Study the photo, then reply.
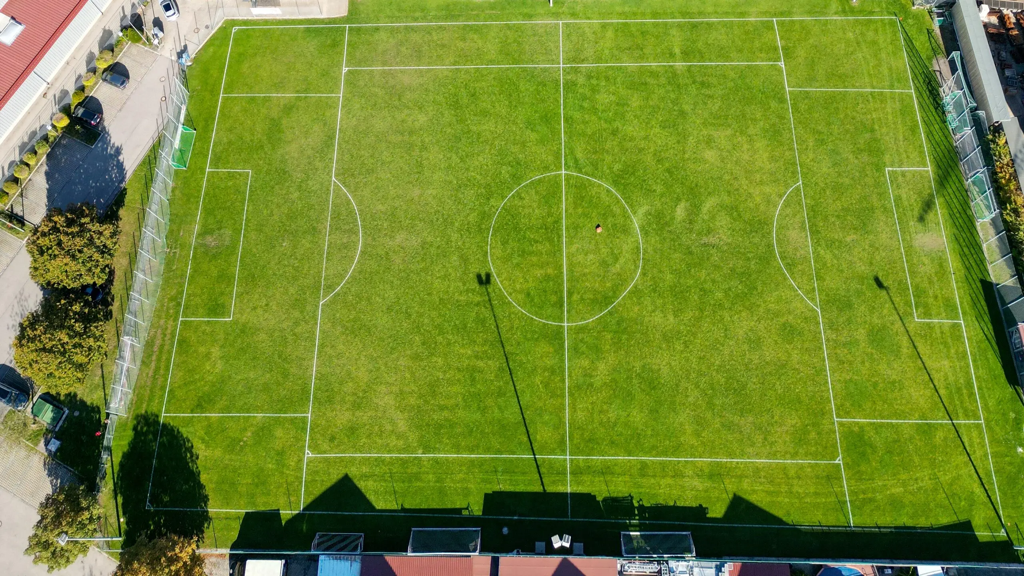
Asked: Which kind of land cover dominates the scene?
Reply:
grass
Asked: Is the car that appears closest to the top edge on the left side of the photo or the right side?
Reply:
left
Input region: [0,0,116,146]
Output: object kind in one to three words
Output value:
warehouse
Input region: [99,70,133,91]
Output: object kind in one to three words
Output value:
car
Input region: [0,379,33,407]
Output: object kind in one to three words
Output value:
car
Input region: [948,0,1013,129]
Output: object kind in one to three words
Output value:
shed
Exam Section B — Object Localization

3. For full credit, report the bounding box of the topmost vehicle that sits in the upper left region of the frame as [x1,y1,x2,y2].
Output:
[156,0,179,24]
